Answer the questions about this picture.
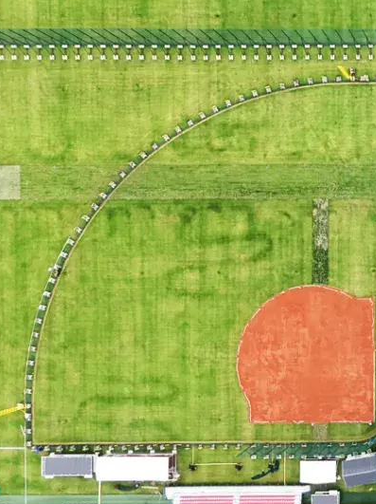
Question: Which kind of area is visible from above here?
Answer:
sports ground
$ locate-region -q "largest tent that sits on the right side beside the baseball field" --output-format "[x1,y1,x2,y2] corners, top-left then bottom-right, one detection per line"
[300,458,340,484]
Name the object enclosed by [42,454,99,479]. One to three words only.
building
